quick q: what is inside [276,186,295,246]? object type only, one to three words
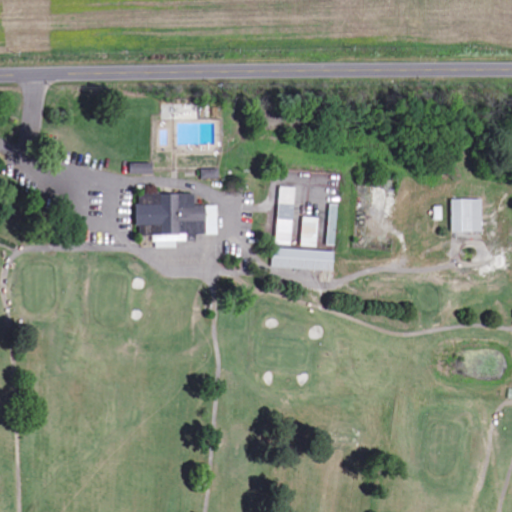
shed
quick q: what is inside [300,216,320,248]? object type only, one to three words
shed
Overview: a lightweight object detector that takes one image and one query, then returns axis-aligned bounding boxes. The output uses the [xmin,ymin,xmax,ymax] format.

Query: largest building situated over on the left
[136,194,205,248]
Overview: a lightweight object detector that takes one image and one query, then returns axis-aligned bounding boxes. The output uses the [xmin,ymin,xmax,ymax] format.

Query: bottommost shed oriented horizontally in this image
[272,247,335,272]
